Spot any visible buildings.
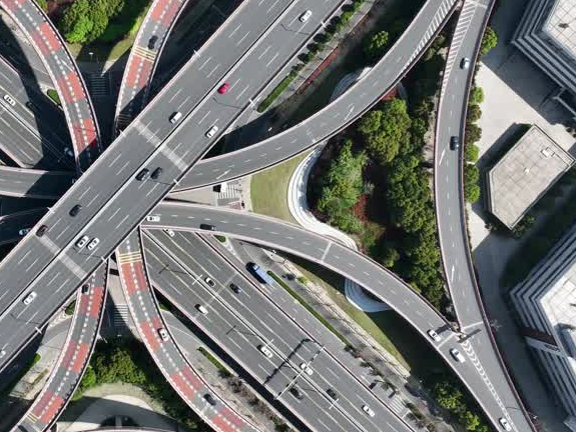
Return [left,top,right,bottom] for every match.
[507,228,576,432]
[483,125,576,229]
[510,0,576,125]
